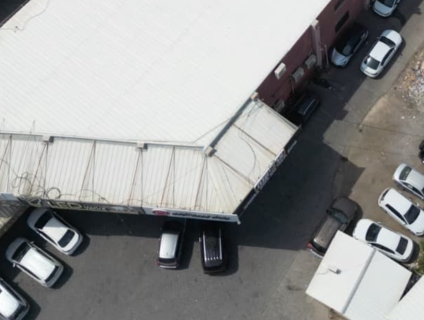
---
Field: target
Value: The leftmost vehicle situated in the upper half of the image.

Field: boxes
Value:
[282,79,332,133]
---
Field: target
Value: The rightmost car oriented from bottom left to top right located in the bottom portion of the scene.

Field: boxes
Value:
[307,191,362,261]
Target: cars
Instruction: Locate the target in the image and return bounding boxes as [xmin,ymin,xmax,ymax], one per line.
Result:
[348,214,421,268]
[4,234,66,292]
[388,157,424,206]
[152,222,189,280]
[372,181,424,243]
[282,79,332,133]
[196,227,229,290]
[0,273,35,320]
[25,213,88,260]
[331,17,373,71]
[359,26,406,81]
[307,191,362,261]
[373,0,403,18]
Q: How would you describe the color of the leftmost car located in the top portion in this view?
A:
black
